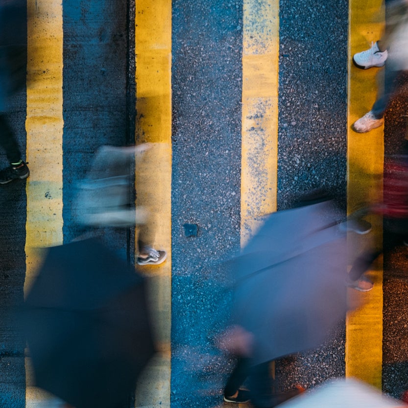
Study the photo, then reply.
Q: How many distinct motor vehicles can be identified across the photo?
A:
0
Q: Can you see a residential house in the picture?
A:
No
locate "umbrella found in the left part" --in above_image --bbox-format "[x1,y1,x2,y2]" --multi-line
[21,237,167,407]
